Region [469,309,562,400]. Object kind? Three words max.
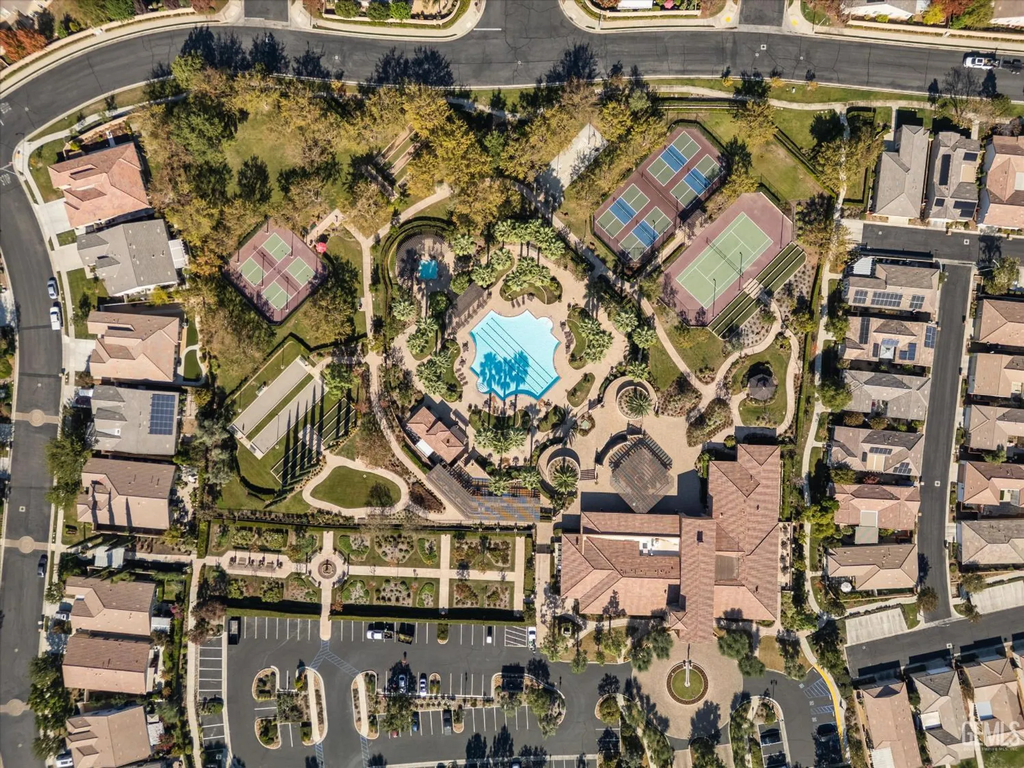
swimming pool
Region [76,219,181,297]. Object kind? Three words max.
house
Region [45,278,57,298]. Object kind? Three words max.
vehicle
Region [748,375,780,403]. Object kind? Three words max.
gazebo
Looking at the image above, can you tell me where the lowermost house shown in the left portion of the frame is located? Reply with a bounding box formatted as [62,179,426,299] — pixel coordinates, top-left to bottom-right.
[65,703,156,768]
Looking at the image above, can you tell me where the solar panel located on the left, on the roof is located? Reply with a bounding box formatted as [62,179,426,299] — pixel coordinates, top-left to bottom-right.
[150,394,175,435]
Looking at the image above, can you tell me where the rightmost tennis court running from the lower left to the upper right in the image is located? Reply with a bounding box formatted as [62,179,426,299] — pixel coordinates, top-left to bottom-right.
[662,192,793,326]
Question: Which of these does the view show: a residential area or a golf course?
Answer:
residential area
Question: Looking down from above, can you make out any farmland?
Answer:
No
